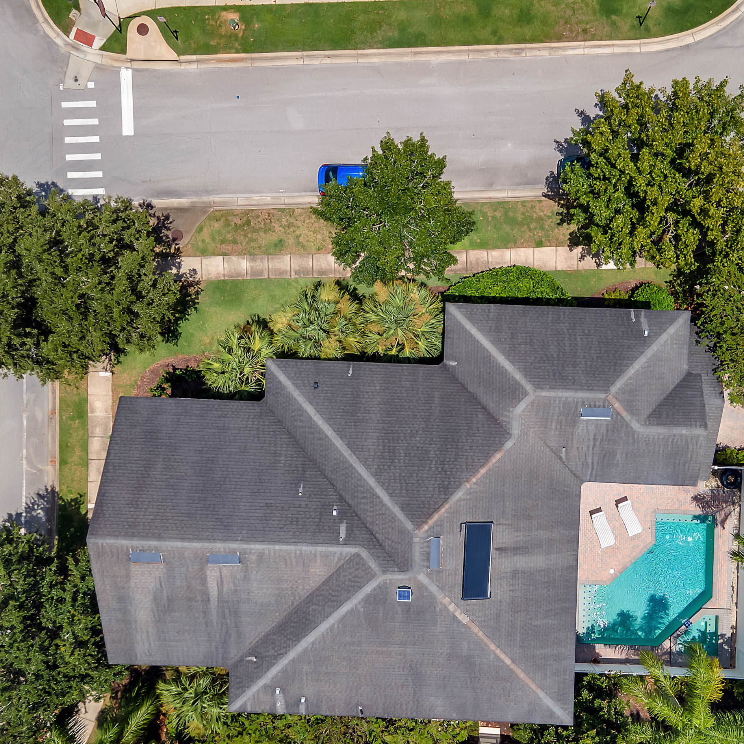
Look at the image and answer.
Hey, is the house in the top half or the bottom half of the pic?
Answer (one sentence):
It is in the bottom half that the house appears.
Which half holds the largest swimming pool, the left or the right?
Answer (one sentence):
It is on the right.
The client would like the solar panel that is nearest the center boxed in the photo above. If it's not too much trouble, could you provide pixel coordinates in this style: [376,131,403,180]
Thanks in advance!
[426,538,444,572]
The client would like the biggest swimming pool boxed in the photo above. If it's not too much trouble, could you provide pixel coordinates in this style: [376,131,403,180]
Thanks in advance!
[576,509,720,652]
